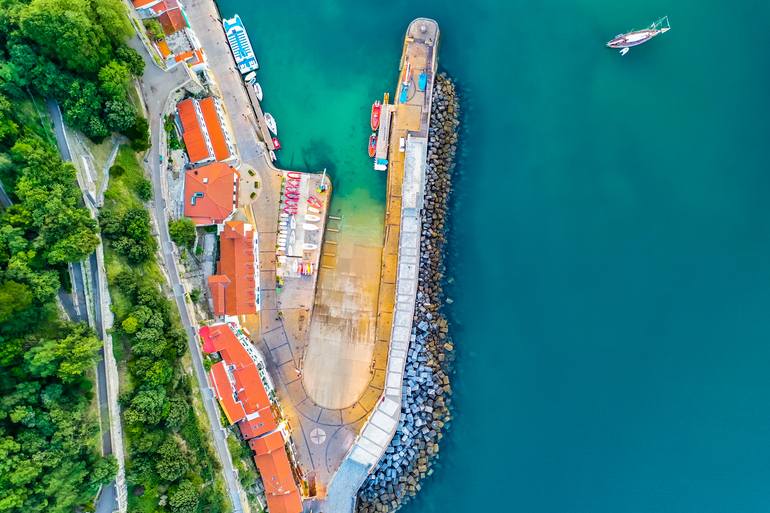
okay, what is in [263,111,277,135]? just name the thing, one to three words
boat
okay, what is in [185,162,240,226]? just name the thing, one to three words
house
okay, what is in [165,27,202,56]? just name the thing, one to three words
house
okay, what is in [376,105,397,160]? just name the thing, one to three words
pier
